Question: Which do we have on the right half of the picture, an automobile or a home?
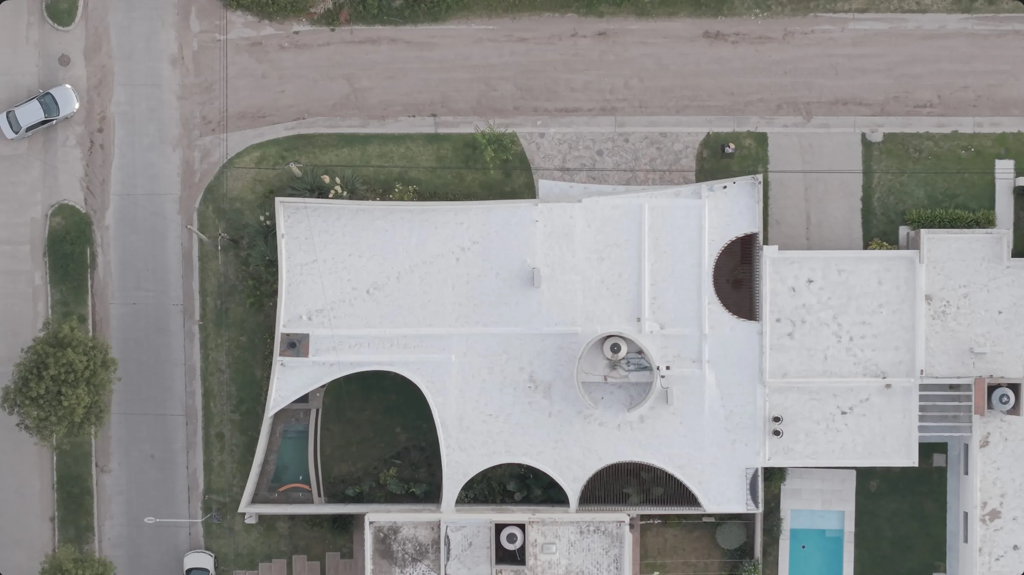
home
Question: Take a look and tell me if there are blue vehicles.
No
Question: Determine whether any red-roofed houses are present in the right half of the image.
No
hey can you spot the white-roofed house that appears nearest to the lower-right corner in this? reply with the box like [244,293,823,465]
[762,226,1024,575]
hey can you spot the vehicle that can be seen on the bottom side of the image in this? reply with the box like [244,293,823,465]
[181,549,218,575]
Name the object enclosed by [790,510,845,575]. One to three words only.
swimming pool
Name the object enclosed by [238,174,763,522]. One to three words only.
house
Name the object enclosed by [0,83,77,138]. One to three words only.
car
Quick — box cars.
[181,549,218,575]
[0,83,77,138]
